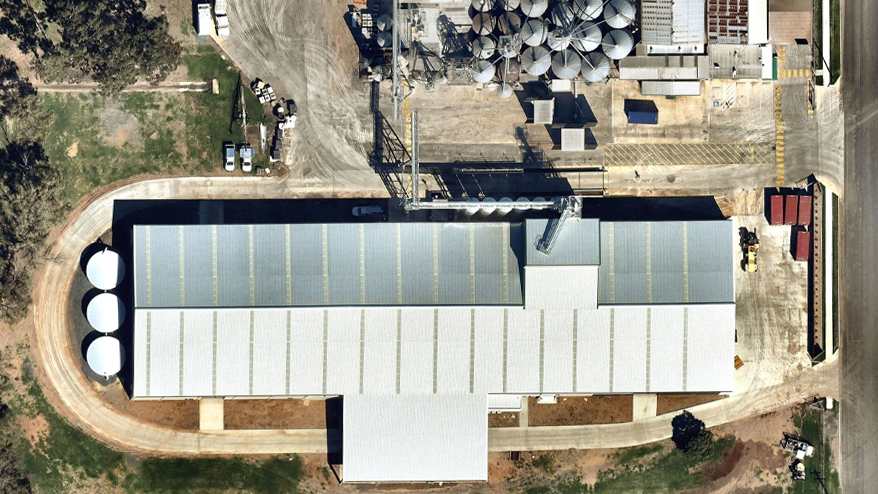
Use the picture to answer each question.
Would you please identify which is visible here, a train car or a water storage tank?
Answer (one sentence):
The image shows a water storage tank.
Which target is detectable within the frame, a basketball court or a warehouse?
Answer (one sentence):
I can see a warehouse in this picture.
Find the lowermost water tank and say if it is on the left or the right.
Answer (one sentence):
You can find the lowermost water tank on the left side of the picture.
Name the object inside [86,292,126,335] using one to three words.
water tank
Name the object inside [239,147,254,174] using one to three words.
vehicle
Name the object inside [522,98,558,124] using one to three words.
shed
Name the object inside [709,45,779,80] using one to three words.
building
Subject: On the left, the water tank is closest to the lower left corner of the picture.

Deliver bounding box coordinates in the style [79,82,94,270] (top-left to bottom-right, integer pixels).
[86,335,126,381]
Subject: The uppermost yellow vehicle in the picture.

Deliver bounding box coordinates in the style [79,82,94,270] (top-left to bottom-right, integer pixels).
[744,228,760,273]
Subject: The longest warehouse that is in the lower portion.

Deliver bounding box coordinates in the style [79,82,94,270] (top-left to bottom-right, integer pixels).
[132,220,736,403]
